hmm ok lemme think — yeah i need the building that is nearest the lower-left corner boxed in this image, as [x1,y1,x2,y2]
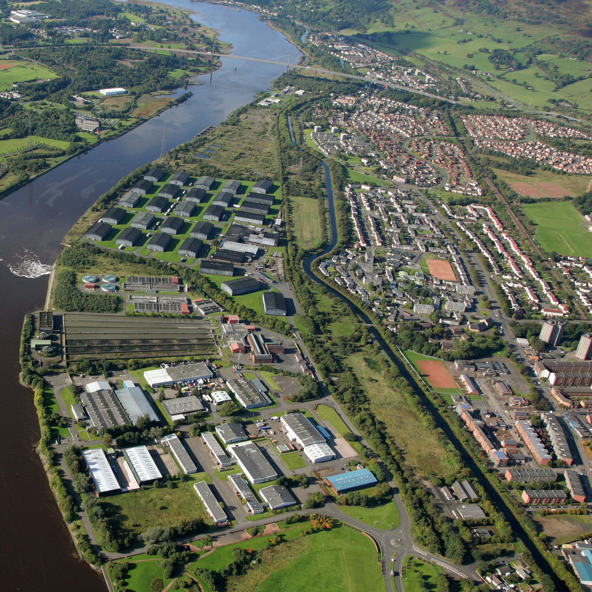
[85,448,121,496]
